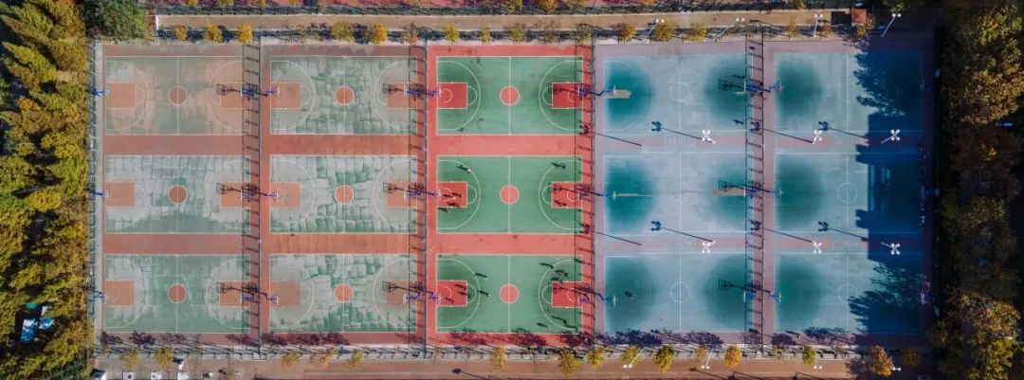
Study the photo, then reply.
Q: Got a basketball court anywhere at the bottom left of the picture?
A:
Yes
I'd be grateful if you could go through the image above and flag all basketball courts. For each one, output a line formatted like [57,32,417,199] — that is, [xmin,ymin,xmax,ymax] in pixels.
[774,53,923,151]
[774,145,923,250]
[774,244,923,333]
[437,155,583,233]
[271,255,416,333]
[106,56,251,134]
[605,244,752,333]
[605,53,752,151]
[605,145,752,250]
[437,255,583,333]
[106,255,251,333]
[106,155,251,233]
[271,56,416,134]
[437,56,583,134]
[271,155,416,233]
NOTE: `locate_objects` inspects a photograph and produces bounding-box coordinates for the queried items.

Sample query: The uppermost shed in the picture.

[854,5,874,27]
